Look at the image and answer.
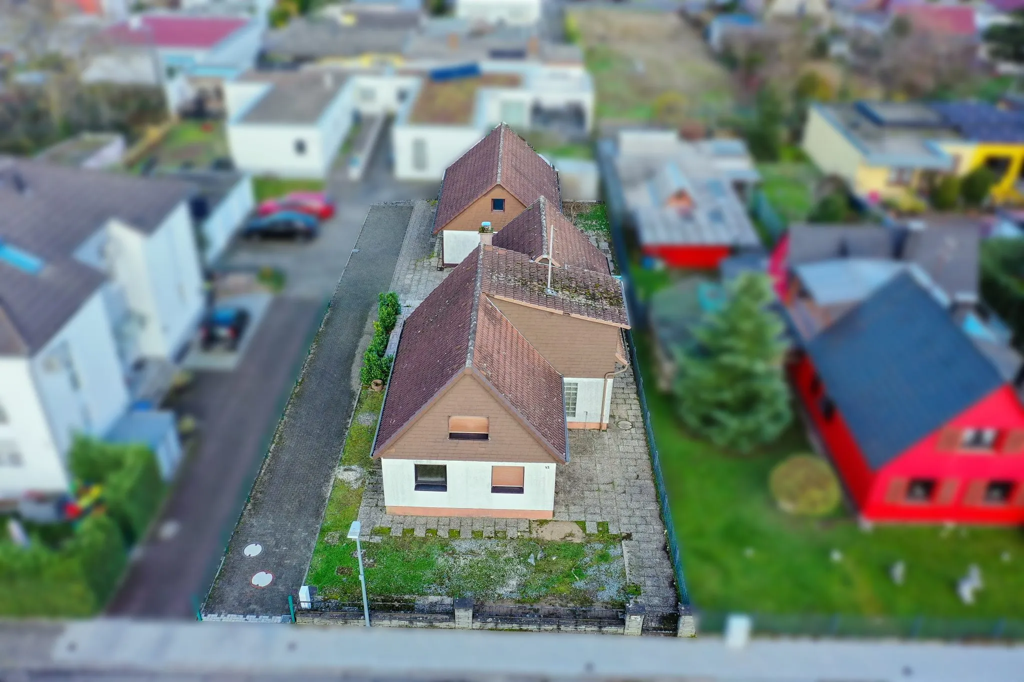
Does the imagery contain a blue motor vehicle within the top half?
Yes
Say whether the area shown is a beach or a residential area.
residential area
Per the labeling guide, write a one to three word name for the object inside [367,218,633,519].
house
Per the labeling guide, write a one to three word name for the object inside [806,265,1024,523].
house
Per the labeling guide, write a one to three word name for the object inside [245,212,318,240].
car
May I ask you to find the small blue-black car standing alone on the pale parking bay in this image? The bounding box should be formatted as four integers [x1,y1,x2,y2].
[204,300,256,343]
